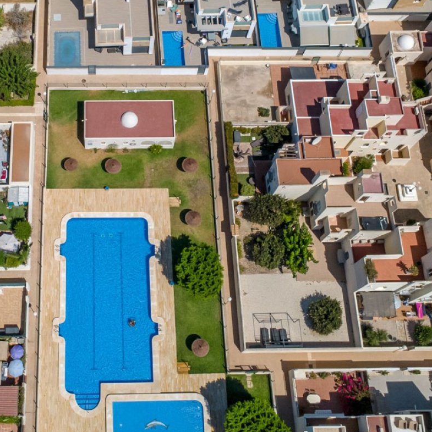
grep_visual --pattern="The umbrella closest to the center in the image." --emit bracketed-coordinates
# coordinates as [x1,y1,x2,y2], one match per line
[182,208,202,229]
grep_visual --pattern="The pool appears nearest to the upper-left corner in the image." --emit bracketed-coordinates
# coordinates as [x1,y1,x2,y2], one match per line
[55,31,80,65]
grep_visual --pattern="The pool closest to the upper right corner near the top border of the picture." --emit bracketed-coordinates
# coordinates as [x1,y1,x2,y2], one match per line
[258,13,281,46]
